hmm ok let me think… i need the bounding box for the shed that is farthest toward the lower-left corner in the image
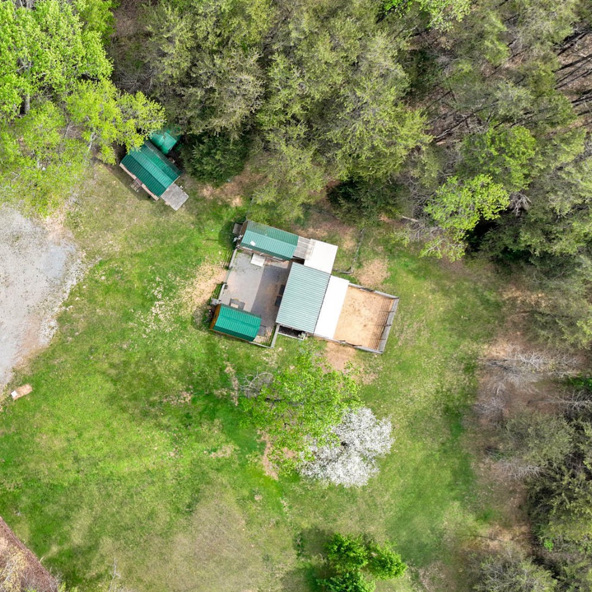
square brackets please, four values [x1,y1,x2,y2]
[209,304,262,341]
